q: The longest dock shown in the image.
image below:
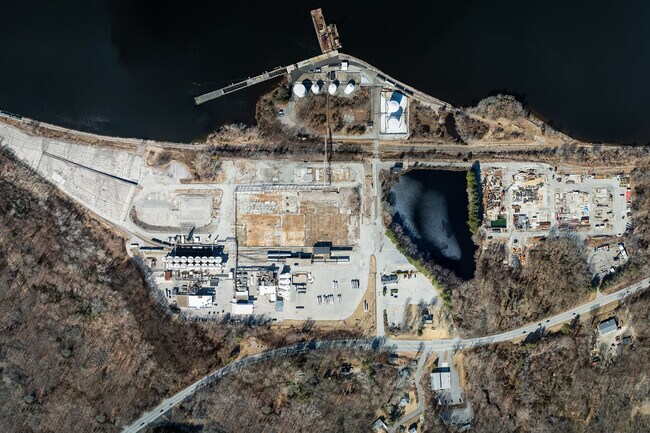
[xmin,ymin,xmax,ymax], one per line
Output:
[194,65,292,104]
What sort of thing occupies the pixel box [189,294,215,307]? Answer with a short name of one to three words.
building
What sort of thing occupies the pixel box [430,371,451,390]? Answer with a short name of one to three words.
building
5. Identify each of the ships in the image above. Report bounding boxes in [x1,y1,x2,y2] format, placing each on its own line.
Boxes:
[310,9,331,52]
[327,24,342,50]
